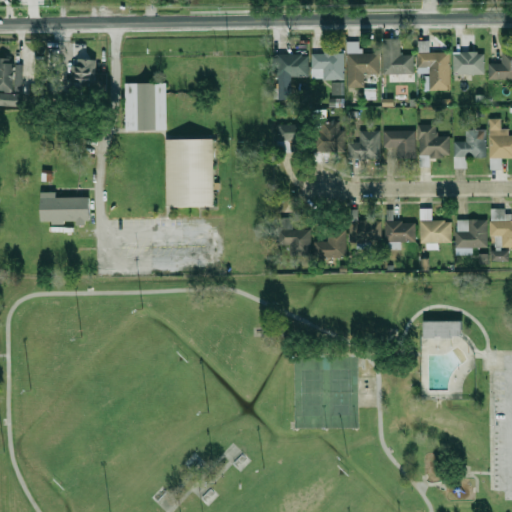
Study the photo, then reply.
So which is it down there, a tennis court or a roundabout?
tennis court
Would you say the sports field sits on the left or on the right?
left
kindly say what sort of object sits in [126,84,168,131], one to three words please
building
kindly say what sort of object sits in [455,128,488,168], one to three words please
house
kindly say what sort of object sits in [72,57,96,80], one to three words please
house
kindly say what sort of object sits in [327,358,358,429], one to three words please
tennis court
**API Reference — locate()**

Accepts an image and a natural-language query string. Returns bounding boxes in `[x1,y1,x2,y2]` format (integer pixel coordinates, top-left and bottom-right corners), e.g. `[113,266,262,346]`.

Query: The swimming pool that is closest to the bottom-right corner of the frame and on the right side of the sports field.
[422,338,476,400]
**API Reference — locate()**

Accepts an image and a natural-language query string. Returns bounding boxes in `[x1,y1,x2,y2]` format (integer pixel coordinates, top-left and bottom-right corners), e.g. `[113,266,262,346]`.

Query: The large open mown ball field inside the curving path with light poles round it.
[14,292,329,512]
